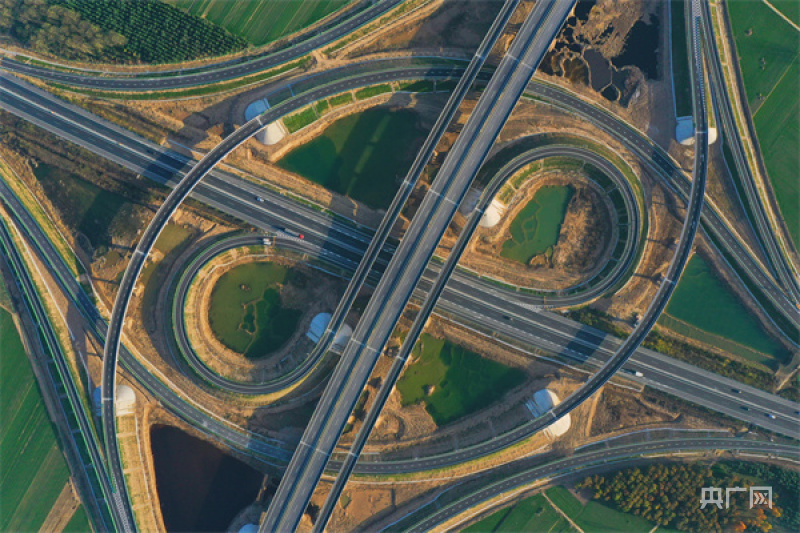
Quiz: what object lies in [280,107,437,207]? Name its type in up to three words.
pond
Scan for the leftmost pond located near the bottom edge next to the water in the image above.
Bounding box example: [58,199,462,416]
[152,424,262,533]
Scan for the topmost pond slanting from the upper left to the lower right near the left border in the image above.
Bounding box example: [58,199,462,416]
[39,168,124,246]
